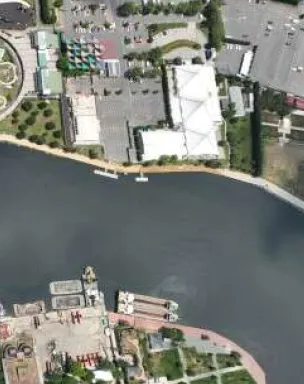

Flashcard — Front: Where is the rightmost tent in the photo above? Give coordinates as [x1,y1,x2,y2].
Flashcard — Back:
[169,64,223,158]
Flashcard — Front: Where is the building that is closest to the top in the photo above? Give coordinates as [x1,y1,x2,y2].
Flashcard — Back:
[0,3,33,31]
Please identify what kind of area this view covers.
port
